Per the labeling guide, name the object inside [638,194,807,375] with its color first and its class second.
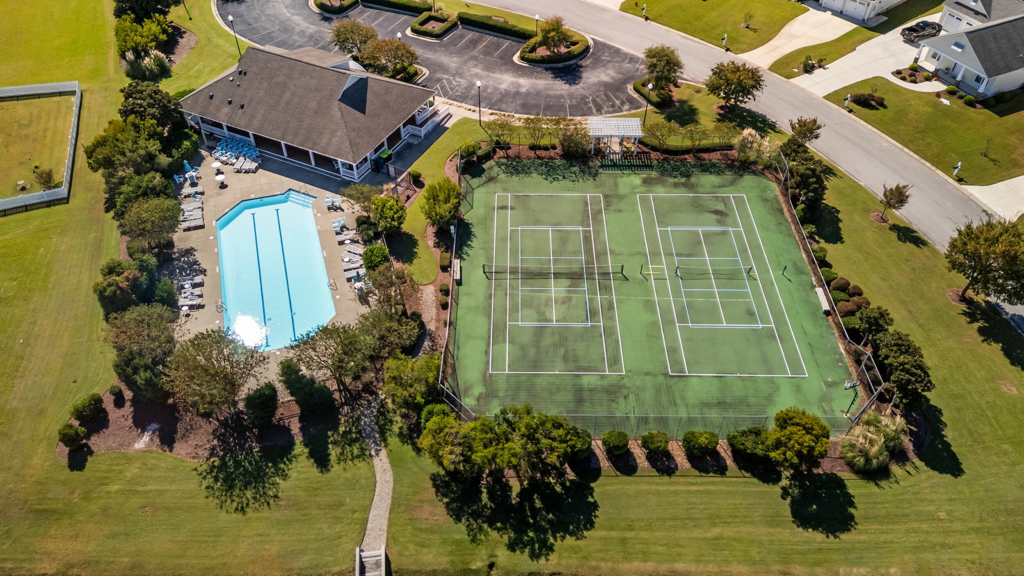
green tennis court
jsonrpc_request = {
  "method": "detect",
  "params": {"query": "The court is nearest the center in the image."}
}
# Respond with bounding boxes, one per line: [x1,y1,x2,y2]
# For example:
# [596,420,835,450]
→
[489,194,625,374]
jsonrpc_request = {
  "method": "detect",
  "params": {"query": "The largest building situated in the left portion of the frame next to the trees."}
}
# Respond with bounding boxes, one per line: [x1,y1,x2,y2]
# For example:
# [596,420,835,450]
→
[180,45,453,185]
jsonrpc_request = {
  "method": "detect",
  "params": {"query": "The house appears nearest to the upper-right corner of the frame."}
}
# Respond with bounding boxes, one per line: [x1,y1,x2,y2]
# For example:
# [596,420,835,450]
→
[912,0,1024,99]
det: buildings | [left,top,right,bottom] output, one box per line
[912,0,1024,99]
[808,0,904,22]
[180,45,453,185]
